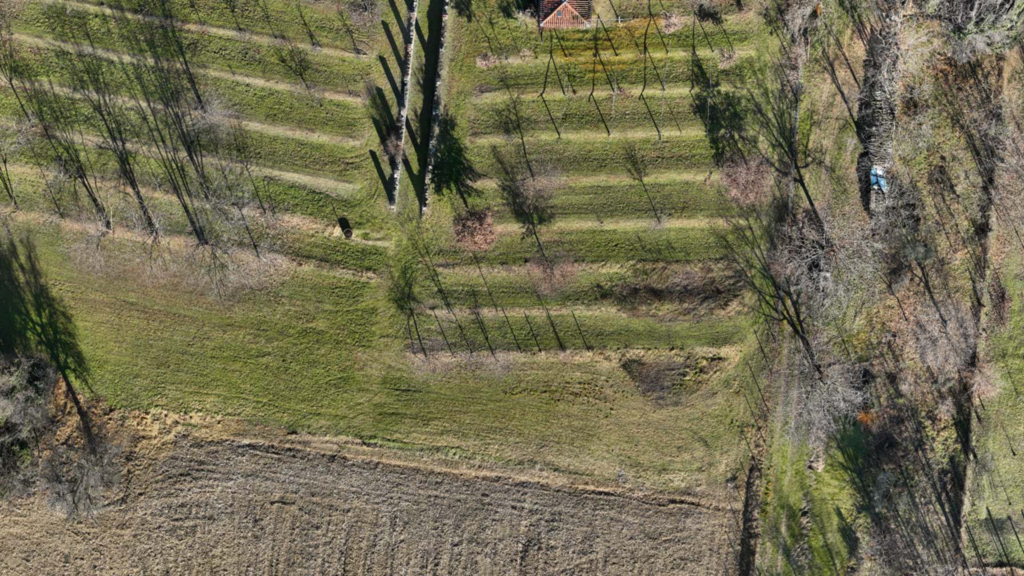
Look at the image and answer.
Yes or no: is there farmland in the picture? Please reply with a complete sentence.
Yes, some farmland is visible.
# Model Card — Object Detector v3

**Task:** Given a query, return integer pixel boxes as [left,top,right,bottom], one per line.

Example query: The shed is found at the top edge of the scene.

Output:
[539,0,592,28]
